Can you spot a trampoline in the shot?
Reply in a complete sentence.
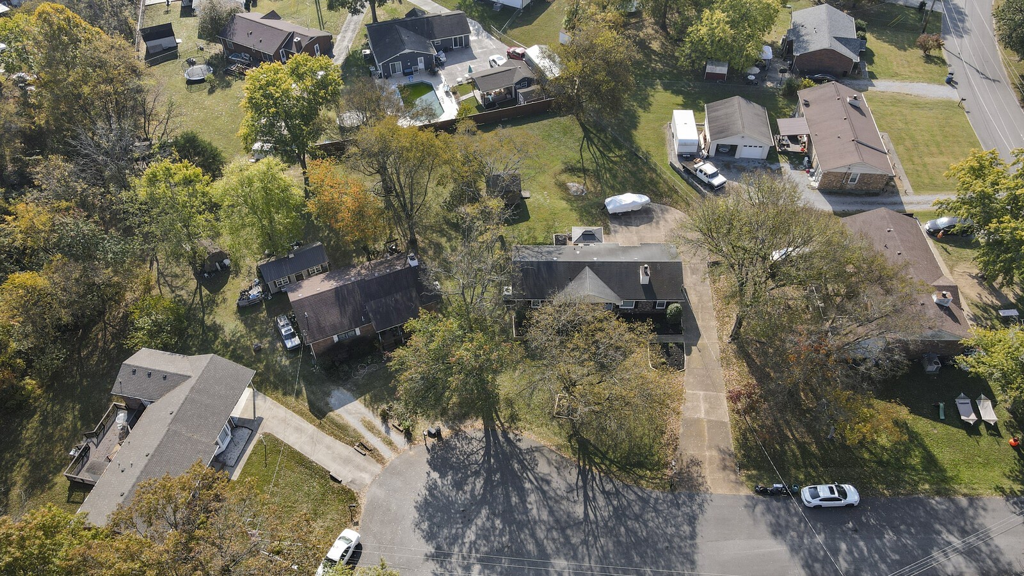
Yes, a trampoline can be made out from above.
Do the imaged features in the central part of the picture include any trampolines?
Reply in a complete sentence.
No, looking in the central part of the picture, there is no trampoline.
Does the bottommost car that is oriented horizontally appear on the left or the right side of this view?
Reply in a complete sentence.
The bottommost car that is oriented horizontally is on the right side of the image.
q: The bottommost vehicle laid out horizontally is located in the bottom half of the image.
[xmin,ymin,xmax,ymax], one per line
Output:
[803,481,863,510]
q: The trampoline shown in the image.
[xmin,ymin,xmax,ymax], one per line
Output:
[177,53,213,84]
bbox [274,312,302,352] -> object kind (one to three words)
car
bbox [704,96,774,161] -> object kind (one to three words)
building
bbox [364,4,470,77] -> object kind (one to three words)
house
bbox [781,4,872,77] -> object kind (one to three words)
house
